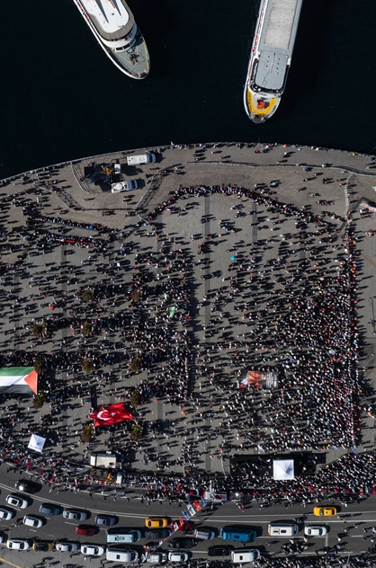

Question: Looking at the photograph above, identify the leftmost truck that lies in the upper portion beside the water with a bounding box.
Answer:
[81,158,122,188]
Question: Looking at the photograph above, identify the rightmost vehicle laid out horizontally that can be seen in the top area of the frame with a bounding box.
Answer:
[124,152,157,165]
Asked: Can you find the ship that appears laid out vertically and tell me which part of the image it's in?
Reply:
top right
